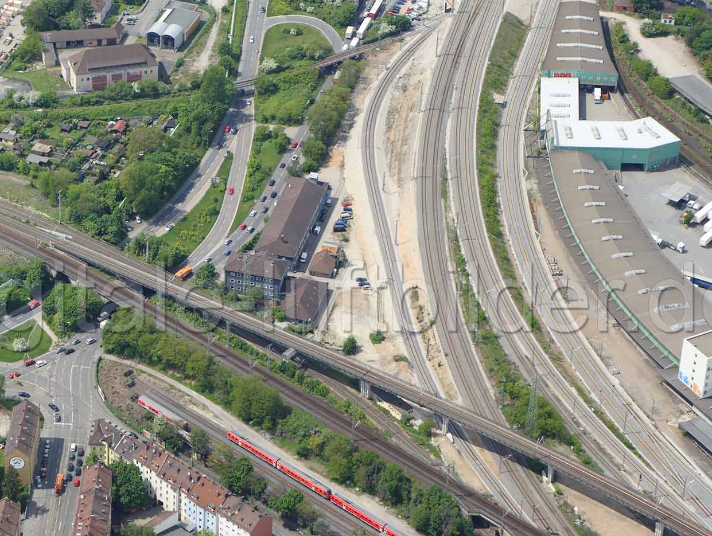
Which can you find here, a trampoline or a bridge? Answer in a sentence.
Visible in the photo is a bridge.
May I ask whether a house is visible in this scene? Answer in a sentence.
Yes, a house is visible in the scene.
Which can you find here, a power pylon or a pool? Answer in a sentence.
The one in the frame is a power pylon.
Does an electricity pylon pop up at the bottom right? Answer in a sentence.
Yes, at the bottom right there is an electricity pylon.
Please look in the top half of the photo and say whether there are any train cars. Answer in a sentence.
No, no train car can be made out in the top half of the photo.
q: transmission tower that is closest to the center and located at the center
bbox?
[374,279,390,336]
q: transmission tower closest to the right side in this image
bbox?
[521,361,555,434]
